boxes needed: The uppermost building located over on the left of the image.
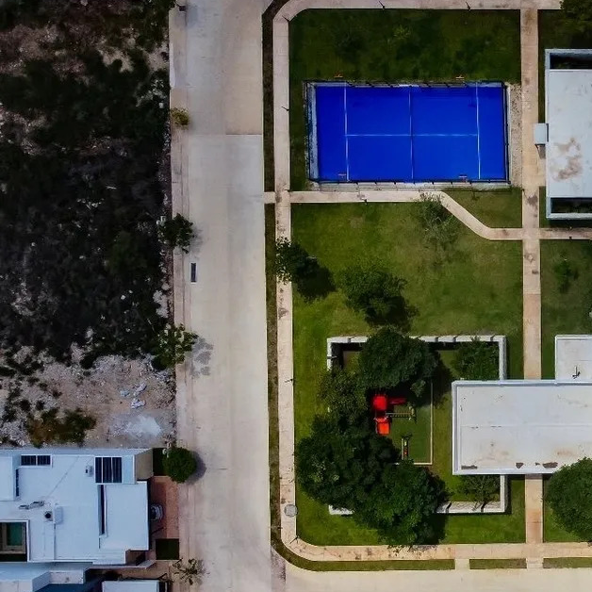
[0,448,166,564]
